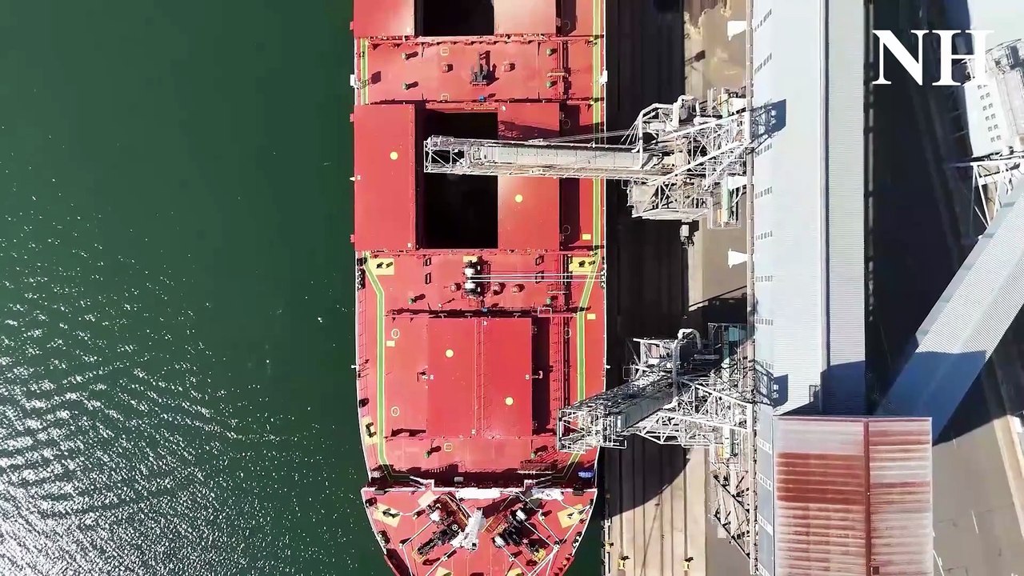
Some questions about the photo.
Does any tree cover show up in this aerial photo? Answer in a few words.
No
